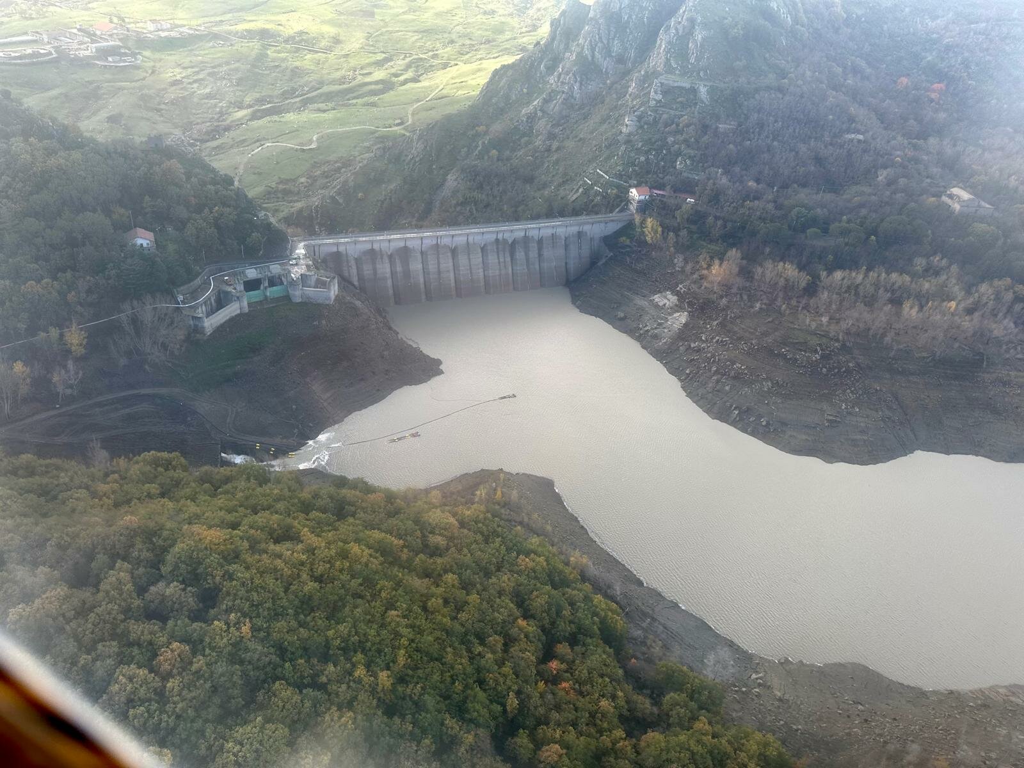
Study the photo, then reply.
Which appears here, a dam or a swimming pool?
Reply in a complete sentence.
Of the two, only a dam appears.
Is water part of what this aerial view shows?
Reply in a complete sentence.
Yes, some water is visible.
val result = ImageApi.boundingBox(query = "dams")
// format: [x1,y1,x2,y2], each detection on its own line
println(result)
[292,210,628,305]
